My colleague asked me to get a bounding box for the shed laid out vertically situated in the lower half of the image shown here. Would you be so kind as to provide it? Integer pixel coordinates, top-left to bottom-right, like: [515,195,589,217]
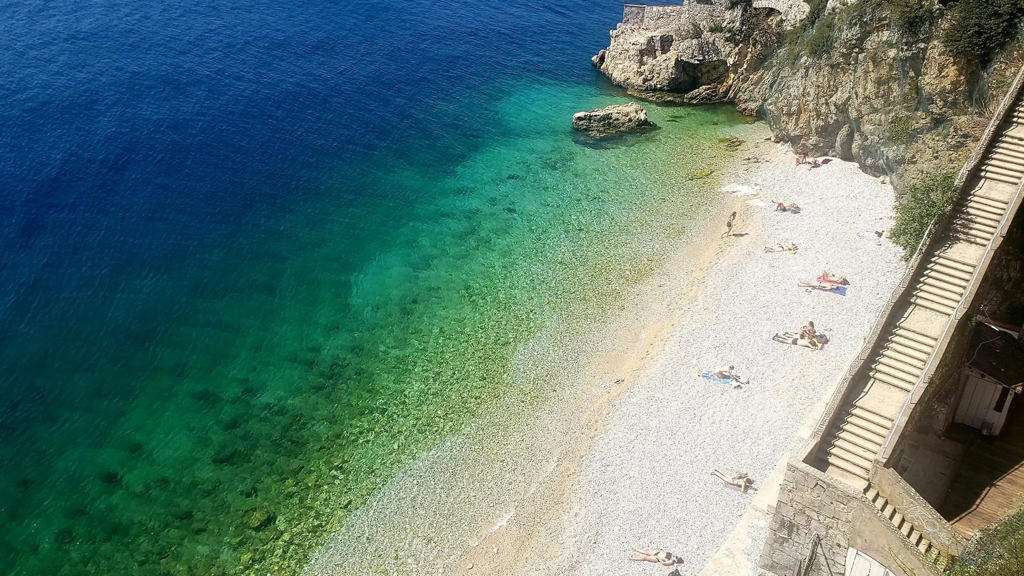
[955,296,1024,442]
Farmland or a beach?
beach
